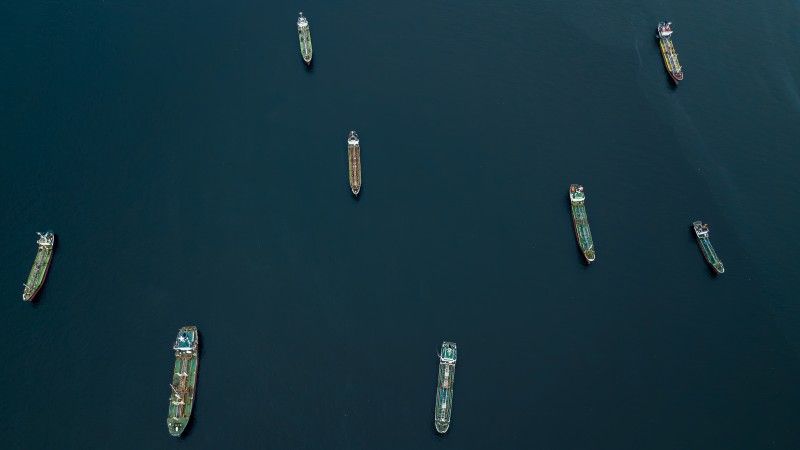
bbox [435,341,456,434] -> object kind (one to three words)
ship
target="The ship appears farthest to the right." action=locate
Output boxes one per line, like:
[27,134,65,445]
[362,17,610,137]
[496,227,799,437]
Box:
[692,222,723,275]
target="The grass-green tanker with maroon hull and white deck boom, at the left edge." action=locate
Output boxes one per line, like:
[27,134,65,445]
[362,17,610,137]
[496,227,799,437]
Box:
[22,230,56,302]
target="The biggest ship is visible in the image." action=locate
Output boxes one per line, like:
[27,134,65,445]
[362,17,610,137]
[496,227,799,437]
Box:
[168,326,198,439]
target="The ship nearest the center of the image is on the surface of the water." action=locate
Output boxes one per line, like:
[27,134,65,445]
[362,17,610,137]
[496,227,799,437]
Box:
[348,129,361,198]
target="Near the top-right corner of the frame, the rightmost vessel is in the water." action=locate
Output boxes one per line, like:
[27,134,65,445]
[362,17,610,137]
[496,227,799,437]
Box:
[658,24,684,83]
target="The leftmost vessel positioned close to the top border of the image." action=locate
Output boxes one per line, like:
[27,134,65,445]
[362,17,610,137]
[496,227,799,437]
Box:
[297,13,312,66]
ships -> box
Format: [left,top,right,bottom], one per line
[22,230,56,302]
[168,326,198,439]
[435,341,456,434]
[692,222,723,275]
[348,129,361,198]
[297,13,312,66]
[658,24,684,83]
[570,184,595,266]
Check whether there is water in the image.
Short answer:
Yes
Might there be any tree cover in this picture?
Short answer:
No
